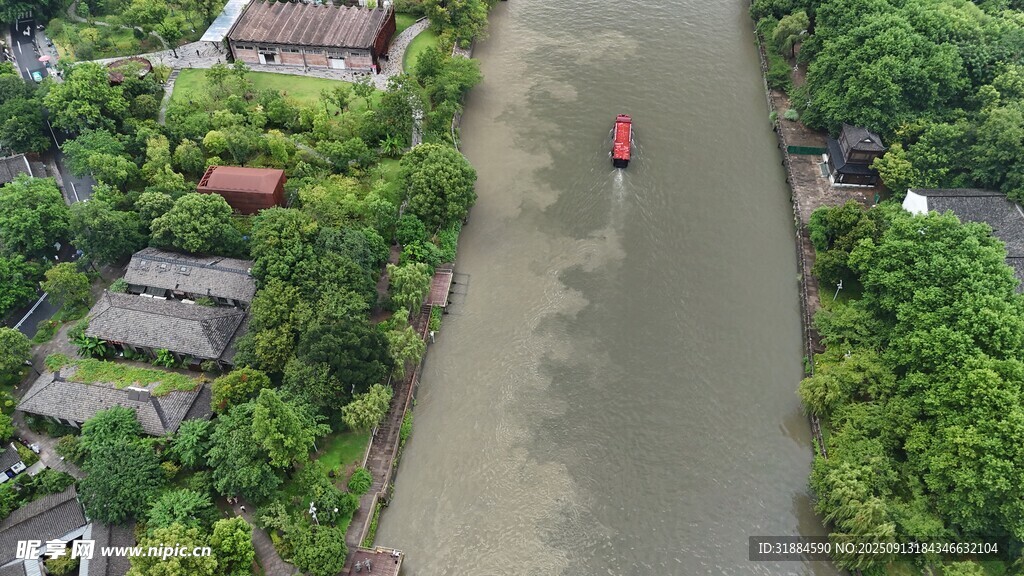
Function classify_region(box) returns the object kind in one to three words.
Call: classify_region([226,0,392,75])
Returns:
building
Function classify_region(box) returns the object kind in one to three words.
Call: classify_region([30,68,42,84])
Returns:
vehicle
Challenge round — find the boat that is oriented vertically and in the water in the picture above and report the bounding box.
[609,112,632,171]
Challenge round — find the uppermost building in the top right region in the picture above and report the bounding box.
[828,123,895,188]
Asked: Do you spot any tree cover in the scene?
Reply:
Yes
